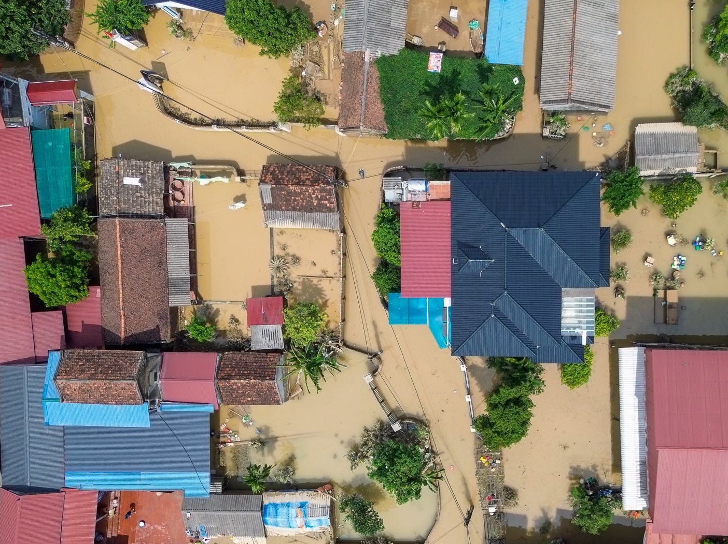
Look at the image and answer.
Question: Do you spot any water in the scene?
Yes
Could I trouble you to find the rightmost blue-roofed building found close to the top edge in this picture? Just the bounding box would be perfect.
[484,0,528,67]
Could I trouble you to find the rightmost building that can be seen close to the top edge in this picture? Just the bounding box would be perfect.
[539,0,618,118]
